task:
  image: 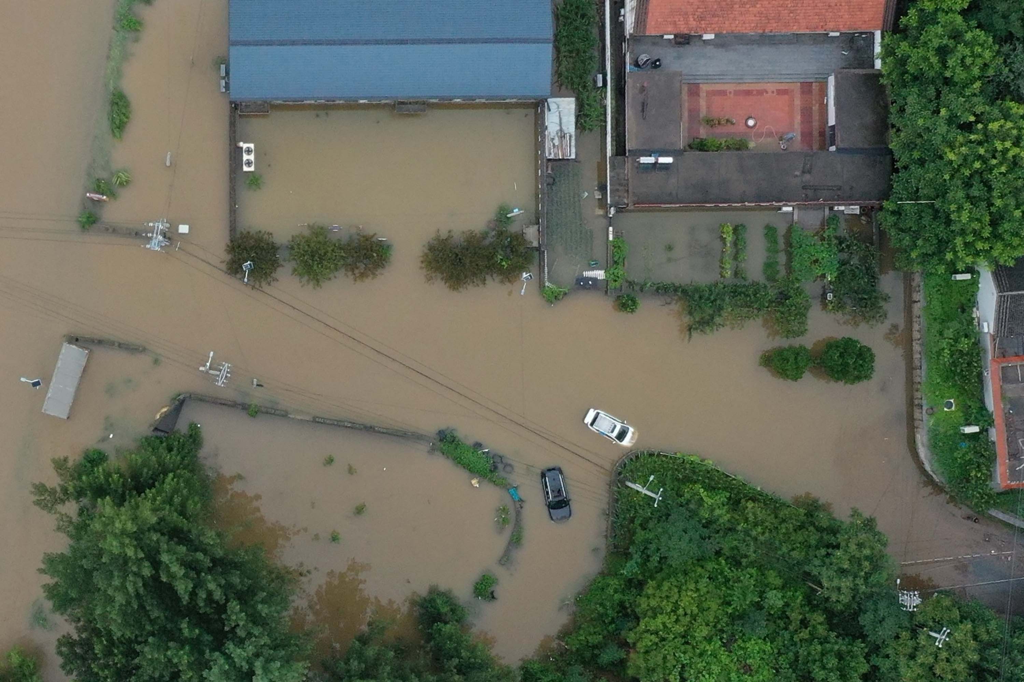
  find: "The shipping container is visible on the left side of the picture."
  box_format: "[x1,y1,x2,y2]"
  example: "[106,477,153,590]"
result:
[41,342,92,420]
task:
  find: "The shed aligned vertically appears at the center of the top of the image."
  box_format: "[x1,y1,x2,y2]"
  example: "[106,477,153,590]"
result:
[546,98,575,164]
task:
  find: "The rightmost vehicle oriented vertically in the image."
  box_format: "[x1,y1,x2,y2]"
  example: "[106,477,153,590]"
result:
[542,465,572,521]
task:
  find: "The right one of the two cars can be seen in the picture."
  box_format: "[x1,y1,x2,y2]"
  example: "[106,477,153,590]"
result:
[584,410,638,447]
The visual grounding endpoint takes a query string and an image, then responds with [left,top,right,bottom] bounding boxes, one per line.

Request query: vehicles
[542,465,572,521]
[584,410,638,447]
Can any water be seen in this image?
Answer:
Yes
